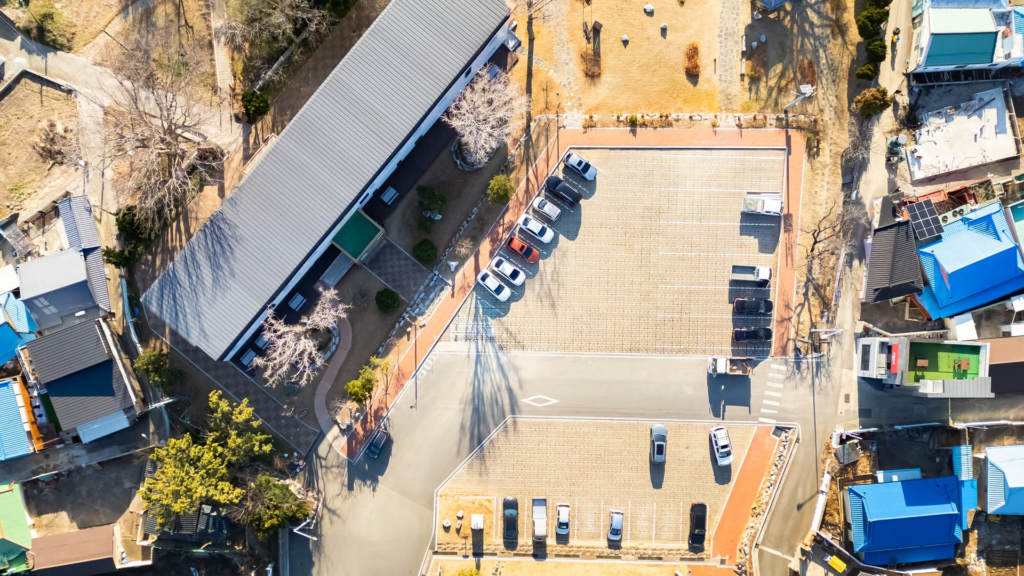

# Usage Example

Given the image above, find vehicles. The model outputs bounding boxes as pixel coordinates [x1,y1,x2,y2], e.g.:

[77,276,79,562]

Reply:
[731,326,773,345]
[732,296,773,315]
[530,194,565,224]
[488,254,528,288]
[729,264,774,284]
[503,233,542,265]
[544,173,584,209]
[555,503,572,534]
[501,497,520,540]
[650,424,669,464]
[474,268,513,303]
[739,194,785,213]
[689,502,708,546]
[710,425,733,467]
[794,343,805,357]
[530,496,549,541]
[517,212,556,246]
[607,509,624,541]
[707,357,756,377]
[561,149,600,183]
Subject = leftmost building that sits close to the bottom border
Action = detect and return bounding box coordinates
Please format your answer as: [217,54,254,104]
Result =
[0,481,47,574]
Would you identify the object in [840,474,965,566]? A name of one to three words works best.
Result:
house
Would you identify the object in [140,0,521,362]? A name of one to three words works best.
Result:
building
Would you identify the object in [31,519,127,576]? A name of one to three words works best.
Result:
house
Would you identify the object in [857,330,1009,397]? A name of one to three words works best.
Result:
building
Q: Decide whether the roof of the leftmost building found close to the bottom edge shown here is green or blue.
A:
green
